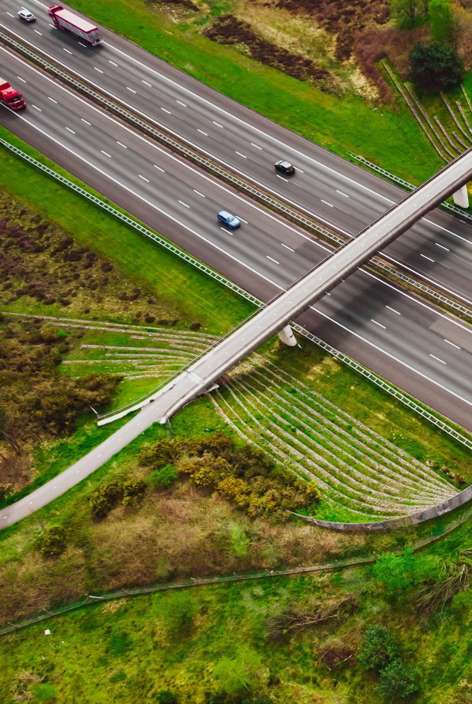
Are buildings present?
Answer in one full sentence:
No, this view has no building in it.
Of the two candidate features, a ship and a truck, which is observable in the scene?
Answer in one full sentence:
I can see a truck in this picture.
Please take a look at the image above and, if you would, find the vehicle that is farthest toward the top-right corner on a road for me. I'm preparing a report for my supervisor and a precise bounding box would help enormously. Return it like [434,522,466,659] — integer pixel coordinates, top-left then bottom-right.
[274,162,296,176]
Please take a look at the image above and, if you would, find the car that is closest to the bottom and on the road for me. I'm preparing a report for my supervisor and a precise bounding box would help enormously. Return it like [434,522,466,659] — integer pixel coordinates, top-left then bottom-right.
[217,212,242,231]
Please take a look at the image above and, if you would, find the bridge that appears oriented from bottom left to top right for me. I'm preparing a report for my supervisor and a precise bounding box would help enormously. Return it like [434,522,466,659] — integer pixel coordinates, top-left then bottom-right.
[92,147,472,429]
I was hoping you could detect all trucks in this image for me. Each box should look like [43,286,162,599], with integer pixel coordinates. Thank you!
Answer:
[0,79,27,111]
[49,7,105,46]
